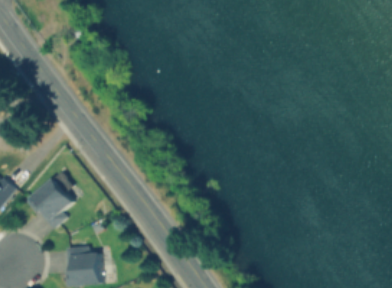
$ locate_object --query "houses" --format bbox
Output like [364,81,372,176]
[0,174,16,207]
[28,168,74,230]
[64,246,106,288]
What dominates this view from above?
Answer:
water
